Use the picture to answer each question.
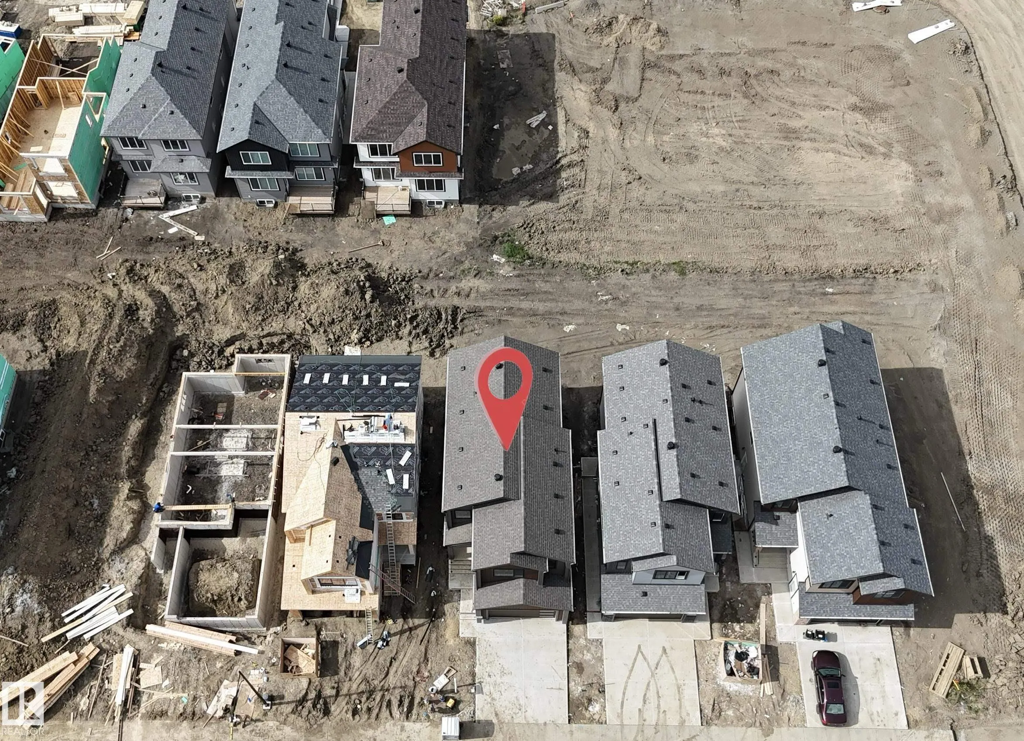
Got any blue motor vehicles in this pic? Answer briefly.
No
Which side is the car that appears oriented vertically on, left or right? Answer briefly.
right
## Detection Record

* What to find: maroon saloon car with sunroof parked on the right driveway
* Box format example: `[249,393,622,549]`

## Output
[815,649,853,726]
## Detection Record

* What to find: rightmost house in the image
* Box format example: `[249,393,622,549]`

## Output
[732,320,932,624]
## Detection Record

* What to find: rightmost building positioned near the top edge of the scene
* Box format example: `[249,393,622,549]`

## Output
[350,0,468,210]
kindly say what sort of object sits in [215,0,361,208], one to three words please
house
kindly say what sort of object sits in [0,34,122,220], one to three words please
house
